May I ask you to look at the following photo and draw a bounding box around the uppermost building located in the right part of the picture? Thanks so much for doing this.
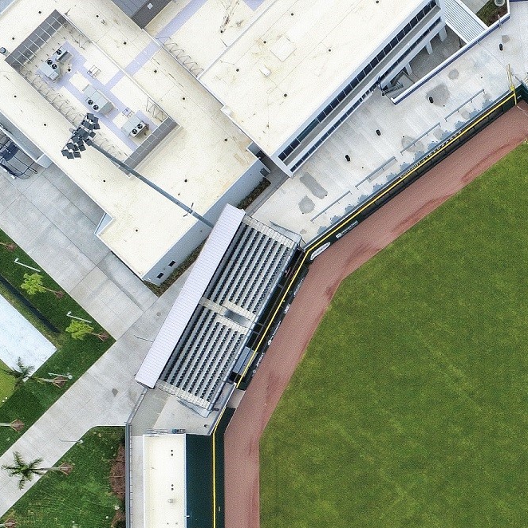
[199,0,453,186]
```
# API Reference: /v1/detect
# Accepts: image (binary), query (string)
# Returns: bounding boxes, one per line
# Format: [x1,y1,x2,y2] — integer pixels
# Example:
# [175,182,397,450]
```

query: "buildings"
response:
[145,433,211,528]
[0,0,273,283]
[199,0,453,186]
